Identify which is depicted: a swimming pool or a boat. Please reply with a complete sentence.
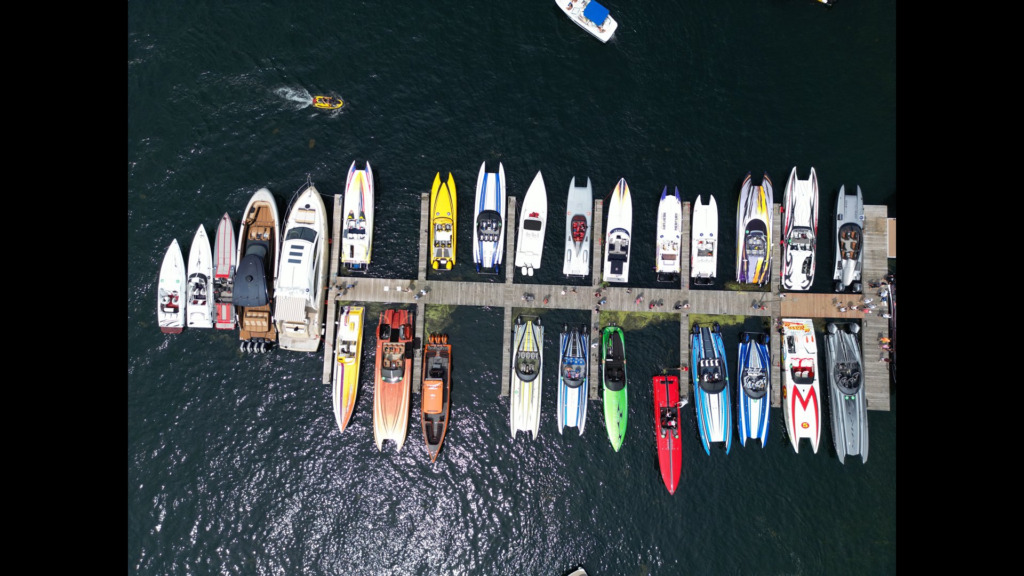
Visible in the photo is a boat.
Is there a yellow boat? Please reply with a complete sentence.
Yes, I can see a yellow boat in this picture.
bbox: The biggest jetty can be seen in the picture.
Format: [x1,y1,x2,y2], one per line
[324,193,890,410]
